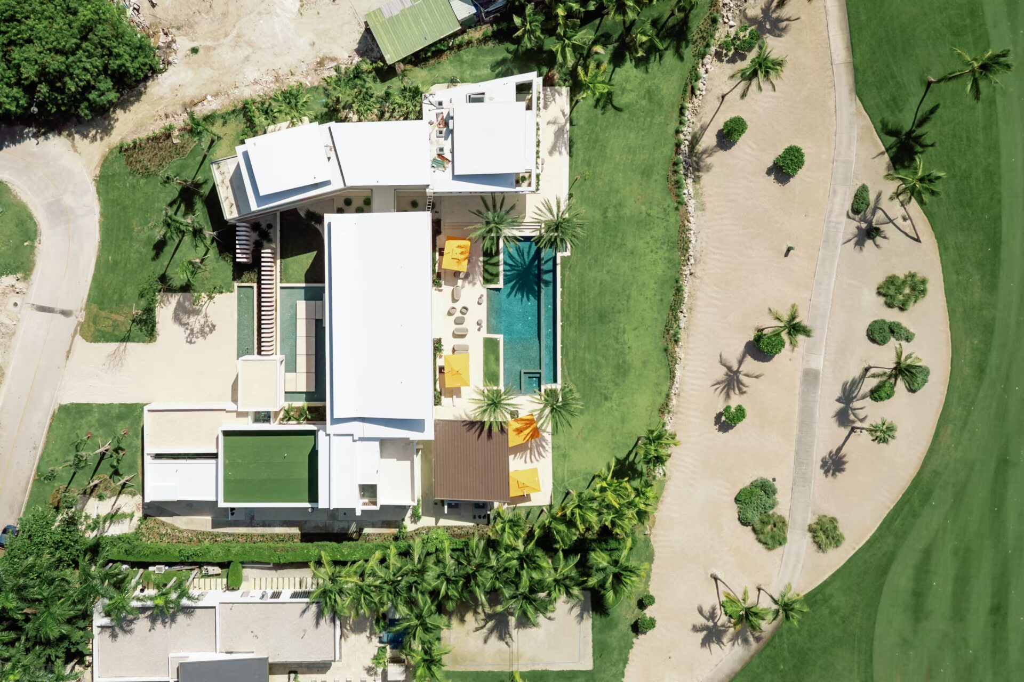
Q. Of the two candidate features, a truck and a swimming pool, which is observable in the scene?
swimming pool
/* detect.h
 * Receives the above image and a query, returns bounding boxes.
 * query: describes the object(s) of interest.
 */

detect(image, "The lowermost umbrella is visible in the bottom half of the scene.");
[510,468,541,503]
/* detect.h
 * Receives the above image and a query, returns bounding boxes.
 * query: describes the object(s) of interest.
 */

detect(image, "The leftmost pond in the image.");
[234,282,256,359]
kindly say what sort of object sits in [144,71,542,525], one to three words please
house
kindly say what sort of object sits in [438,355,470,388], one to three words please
umbrella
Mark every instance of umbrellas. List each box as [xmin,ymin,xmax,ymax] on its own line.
[510,415,539,446]
[438,355,470,388]
[510,468,541,503]
[439,238,471,272]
